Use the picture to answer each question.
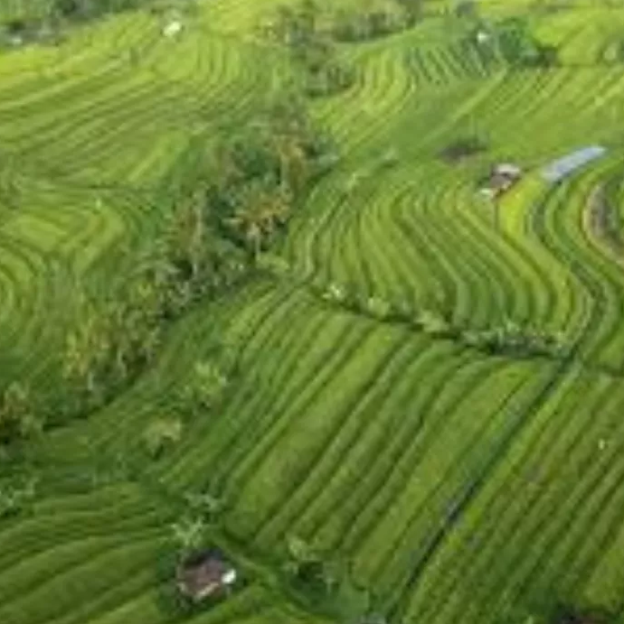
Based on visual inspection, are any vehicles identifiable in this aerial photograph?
No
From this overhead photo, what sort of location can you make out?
farmland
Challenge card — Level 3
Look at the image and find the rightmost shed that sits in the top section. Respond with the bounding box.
[542,147,609,182]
